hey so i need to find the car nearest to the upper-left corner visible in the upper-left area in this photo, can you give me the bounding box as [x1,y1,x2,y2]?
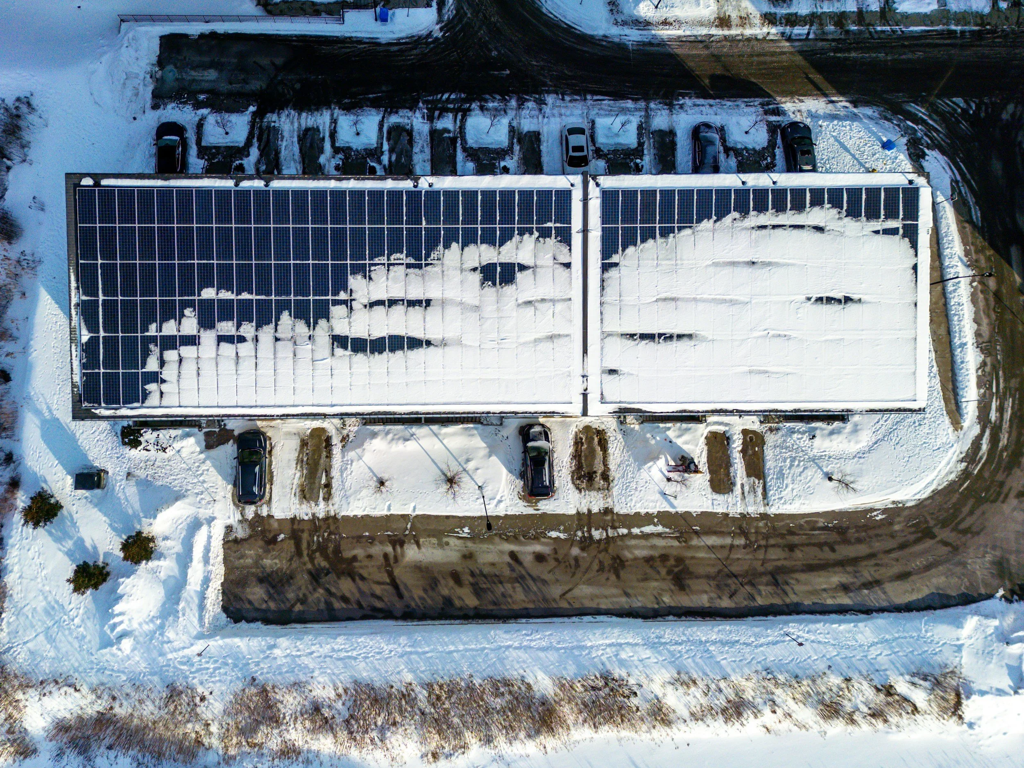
[151,125,187,172]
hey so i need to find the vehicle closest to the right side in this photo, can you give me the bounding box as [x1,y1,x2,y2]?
[778,122,818,172]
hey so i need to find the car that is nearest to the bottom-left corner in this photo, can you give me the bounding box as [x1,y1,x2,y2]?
[234,430,270,504]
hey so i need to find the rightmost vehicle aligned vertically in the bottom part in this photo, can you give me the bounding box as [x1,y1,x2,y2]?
[521,424,557,499]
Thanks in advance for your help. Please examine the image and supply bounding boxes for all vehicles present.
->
[689,123,725,172]
[521,424,557,499]
[234,430,270,504]
[778,122,818,172]
[560,121,594,172]
[151,125,187,172]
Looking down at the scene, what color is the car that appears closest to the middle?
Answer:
black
